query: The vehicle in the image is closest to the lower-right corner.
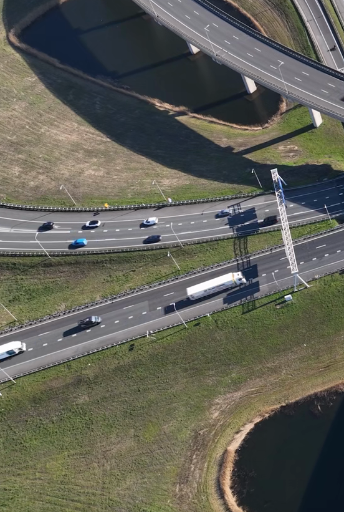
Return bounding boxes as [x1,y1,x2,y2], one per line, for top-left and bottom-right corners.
[184,272,247,300]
